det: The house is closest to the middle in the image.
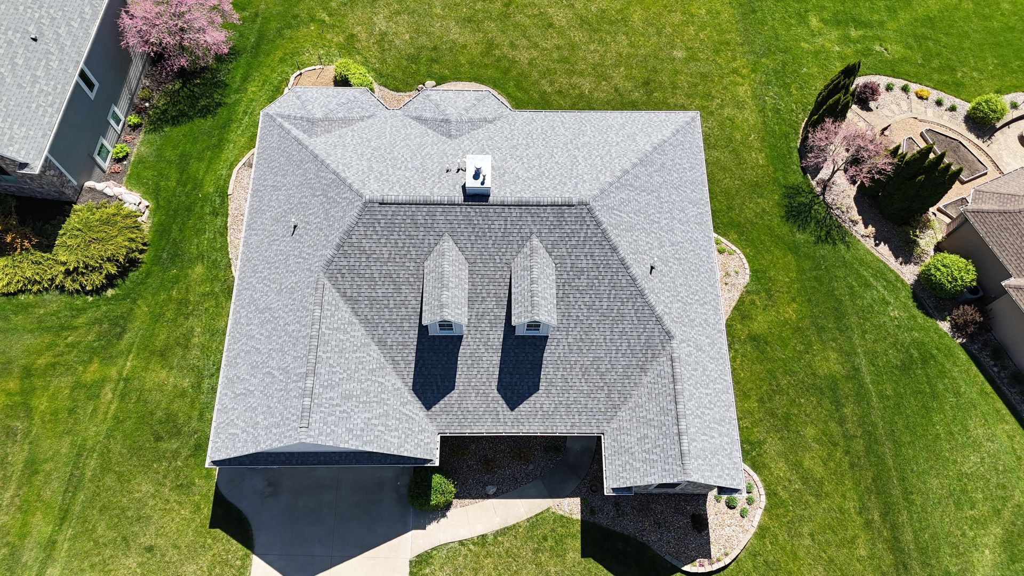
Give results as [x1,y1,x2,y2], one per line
[207,87,743,495]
